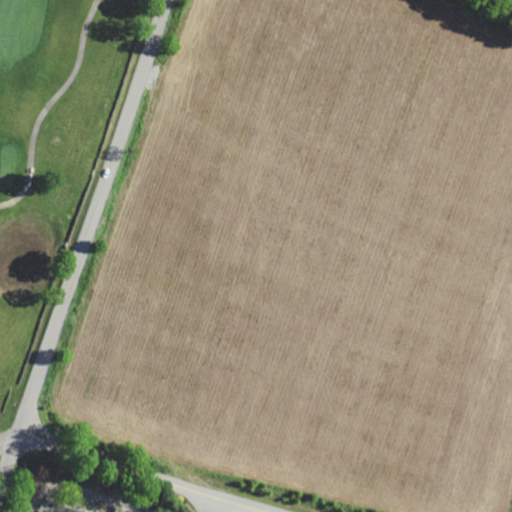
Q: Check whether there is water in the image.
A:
No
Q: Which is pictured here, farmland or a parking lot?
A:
farmland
